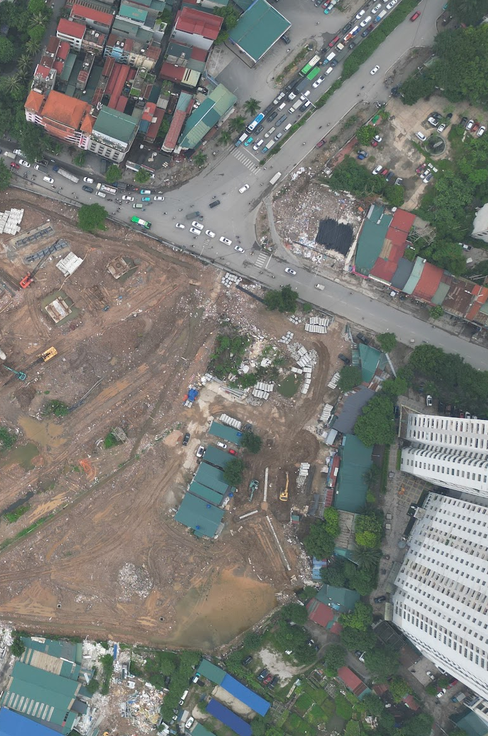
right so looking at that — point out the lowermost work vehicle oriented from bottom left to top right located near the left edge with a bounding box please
[21,345,61,376]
